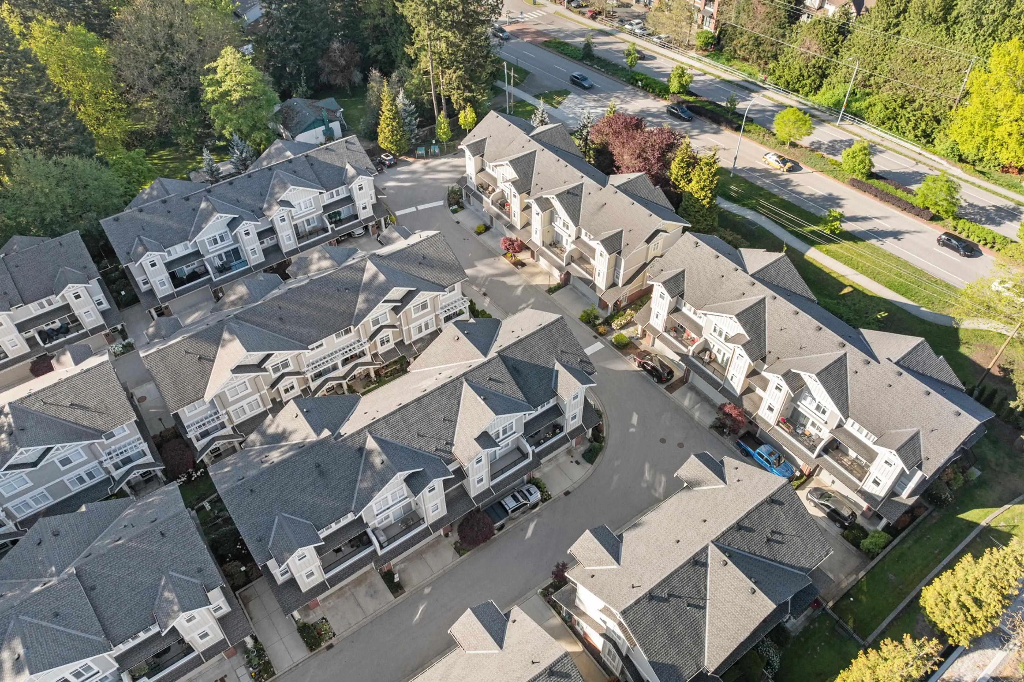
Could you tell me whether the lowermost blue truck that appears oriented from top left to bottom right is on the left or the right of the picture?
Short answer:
right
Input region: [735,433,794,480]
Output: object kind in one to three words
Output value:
truck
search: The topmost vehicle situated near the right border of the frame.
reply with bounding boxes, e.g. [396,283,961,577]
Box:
[939,231,981,257]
